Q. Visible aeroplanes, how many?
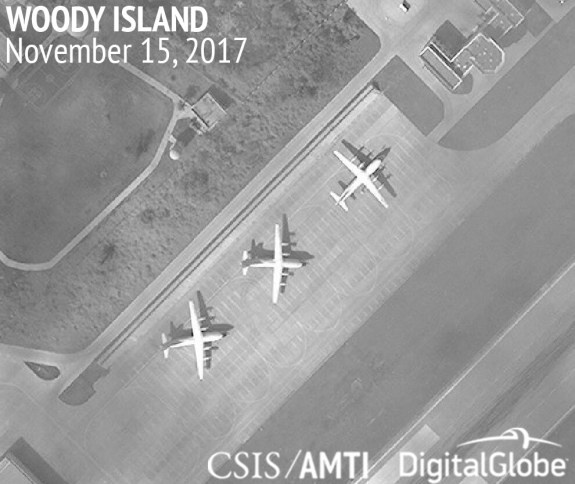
3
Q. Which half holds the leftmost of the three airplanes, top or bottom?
bottom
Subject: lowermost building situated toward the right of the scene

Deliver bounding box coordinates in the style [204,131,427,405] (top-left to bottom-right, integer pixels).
[421,31,503,90]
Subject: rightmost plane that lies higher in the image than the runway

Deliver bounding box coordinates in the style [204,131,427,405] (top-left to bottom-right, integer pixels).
[328,150,390,211]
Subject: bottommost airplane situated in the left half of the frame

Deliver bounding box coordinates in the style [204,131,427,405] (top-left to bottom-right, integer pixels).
[161,302,230,379]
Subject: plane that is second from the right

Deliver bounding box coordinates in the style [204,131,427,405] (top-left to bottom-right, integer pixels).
[242,225,311,303]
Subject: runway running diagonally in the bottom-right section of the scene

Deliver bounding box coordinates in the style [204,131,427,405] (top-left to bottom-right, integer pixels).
[355,264,575,484]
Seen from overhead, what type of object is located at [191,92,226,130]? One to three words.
house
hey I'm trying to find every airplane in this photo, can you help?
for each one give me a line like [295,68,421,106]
[328,150,390,211]
[242,225,311,303]
[161,302,230,379]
